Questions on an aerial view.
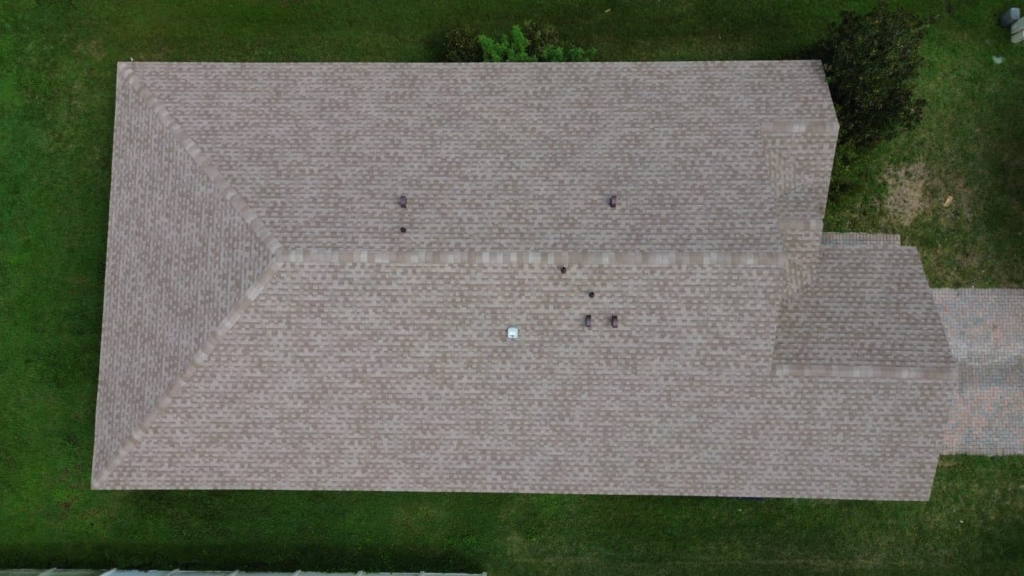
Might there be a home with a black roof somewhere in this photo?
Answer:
No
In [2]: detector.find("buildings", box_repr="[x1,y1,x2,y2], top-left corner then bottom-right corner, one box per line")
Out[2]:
[90,58,959,501]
